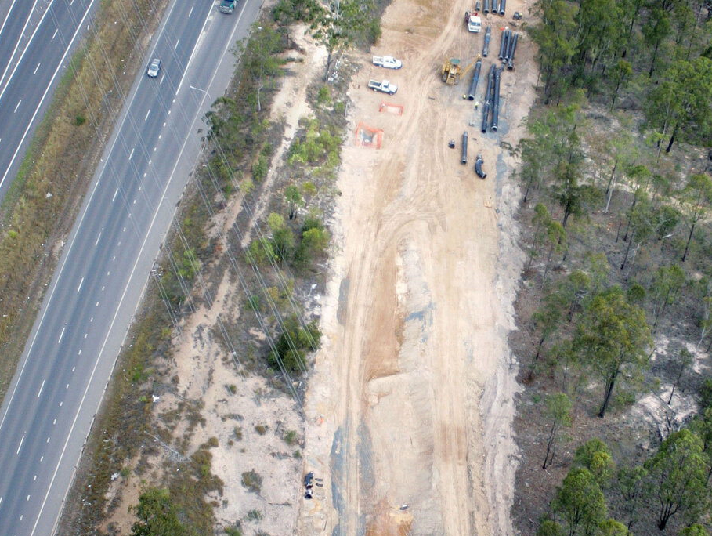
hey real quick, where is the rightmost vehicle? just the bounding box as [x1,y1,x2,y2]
[465,6,482,31]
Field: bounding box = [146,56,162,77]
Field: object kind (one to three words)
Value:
car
